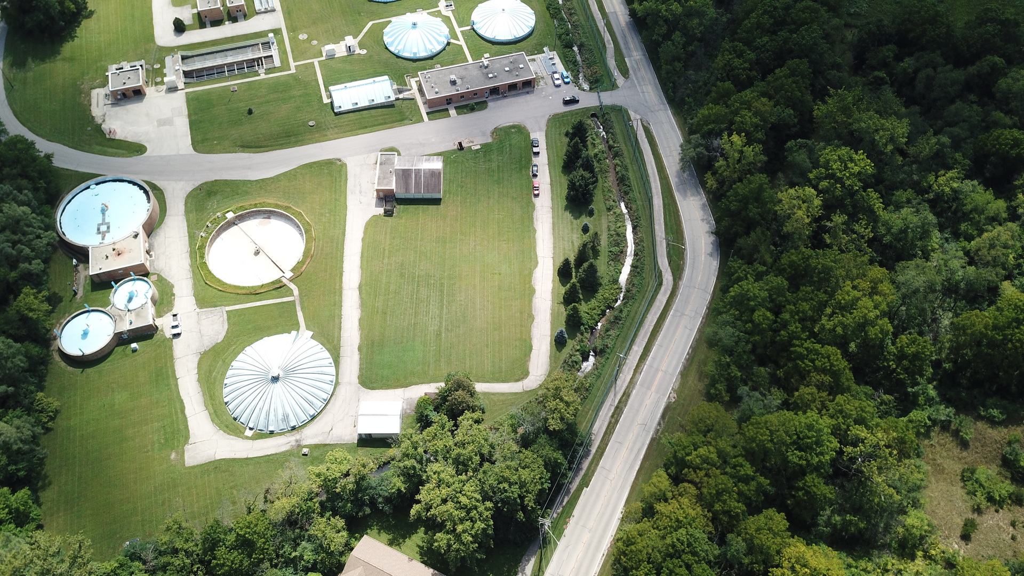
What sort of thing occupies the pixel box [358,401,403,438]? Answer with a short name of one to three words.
barn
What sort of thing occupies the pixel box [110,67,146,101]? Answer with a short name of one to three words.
building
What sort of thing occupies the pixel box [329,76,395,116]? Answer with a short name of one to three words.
shed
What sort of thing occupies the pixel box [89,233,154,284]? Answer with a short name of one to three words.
building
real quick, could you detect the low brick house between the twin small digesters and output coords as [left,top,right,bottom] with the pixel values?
[109,301,157,341]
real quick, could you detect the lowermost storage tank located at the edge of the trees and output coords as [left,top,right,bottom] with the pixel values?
[57,306,118,362]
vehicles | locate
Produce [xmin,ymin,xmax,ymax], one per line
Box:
[532,164,539,176]
[551,71,561,86]
[561,71,570,83]
[170,313,181,336]
[531,138,540,154]
[533,181,540,196]
[562,95,580,104]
